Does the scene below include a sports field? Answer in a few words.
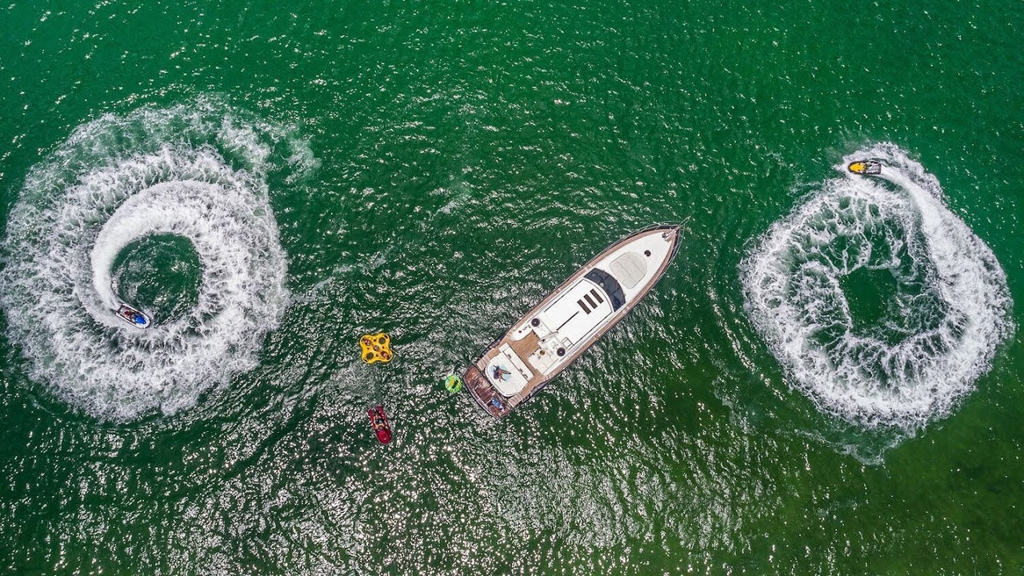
No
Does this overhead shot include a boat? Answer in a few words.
Yes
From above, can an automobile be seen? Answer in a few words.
No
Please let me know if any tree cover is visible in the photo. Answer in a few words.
No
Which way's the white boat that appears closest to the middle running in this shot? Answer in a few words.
diagonally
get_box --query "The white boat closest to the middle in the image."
[463,215,692,418]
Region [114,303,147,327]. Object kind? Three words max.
boat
